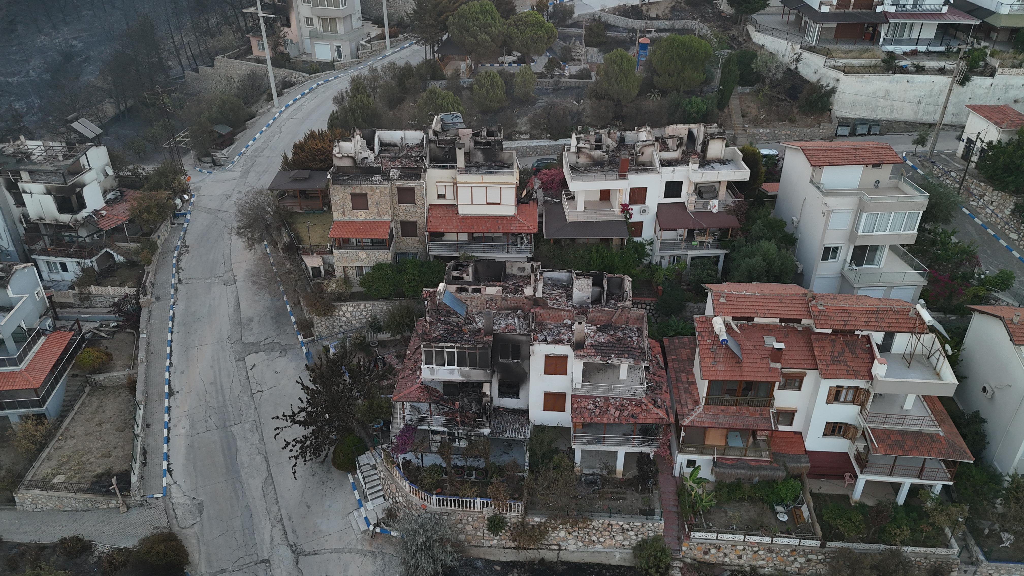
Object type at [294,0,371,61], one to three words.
house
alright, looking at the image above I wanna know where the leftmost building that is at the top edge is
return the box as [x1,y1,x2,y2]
[238,0,302,57]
